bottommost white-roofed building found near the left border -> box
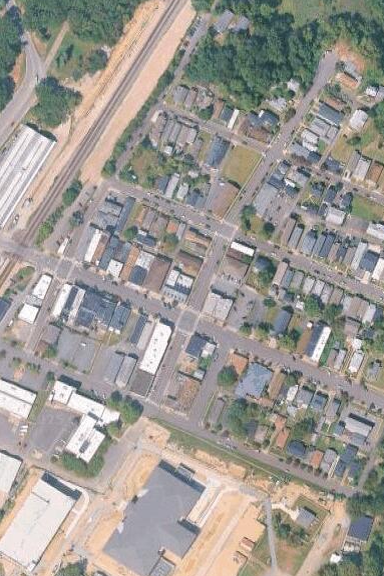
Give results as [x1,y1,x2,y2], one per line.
[0,477,78,570]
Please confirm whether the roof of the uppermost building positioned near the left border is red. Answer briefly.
No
